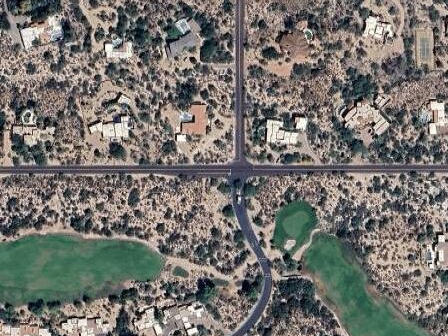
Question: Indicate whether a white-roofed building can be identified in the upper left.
Yes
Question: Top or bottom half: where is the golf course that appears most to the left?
bottom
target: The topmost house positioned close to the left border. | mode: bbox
[20,14,64,52]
